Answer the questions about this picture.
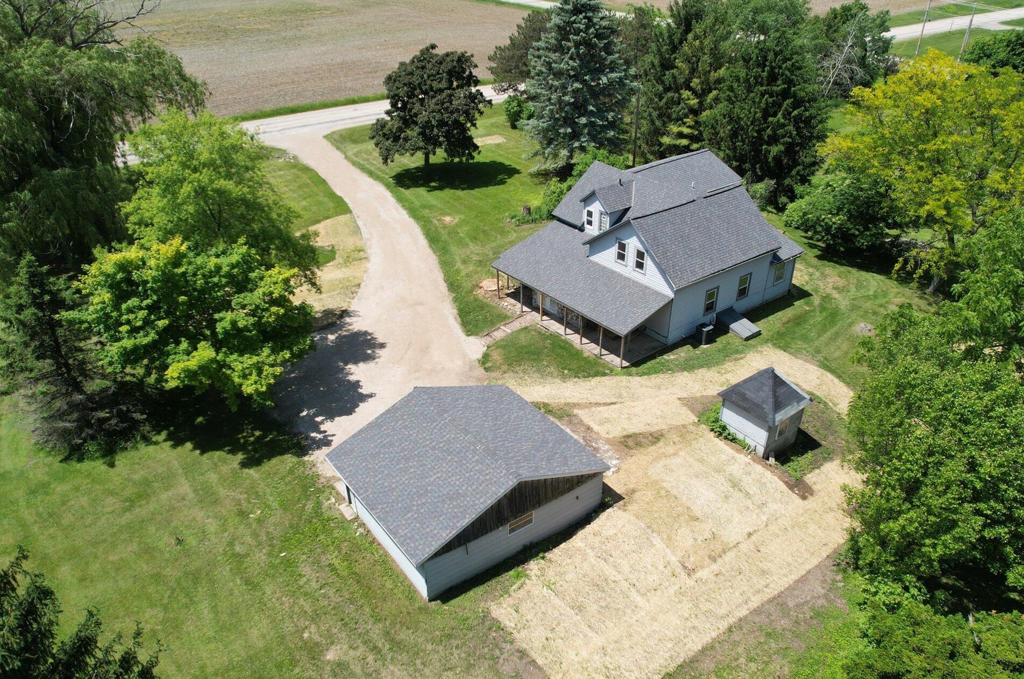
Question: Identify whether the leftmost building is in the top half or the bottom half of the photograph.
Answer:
bottom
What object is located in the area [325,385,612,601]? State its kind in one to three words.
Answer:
building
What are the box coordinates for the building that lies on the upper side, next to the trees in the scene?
[492,147,805,371]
